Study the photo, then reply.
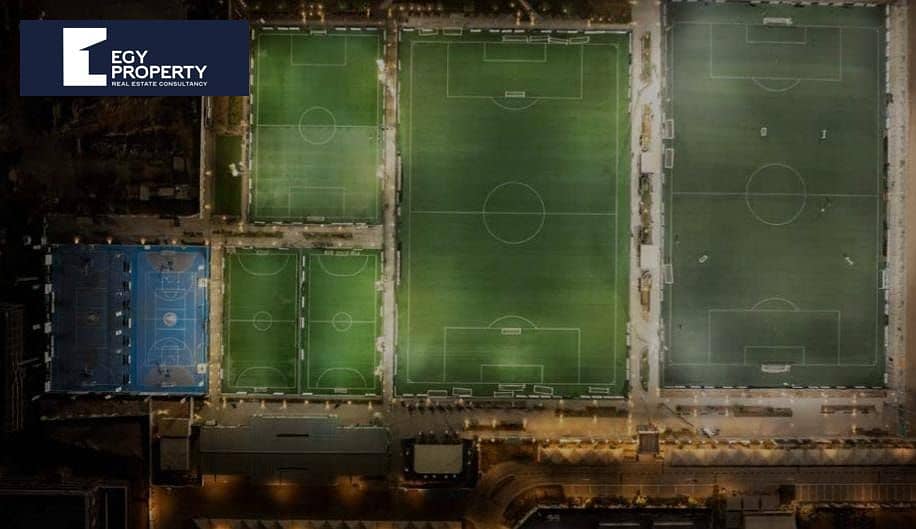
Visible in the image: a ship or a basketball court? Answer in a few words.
basketball court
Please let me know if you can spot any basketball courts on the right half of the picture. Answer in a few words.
No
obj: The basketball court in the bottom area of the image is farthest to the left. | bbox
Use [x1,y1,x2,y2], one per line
[49,245,128,393]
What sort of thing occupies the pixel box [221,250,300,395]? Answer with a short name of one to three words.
soccer field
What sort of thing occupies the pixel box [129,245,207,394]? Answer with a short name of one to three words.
basketball court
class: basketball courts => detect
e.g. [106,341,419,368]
[49,245,128,393]
[129,245,207,394]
